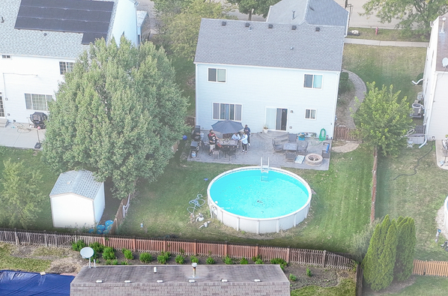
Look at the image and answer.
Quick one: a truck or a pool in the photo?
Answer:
pool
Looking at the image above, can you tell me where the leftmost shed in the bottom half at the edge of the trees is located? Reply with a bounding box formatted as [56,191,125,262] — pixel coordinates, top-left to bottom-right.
[47,172,102,226]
